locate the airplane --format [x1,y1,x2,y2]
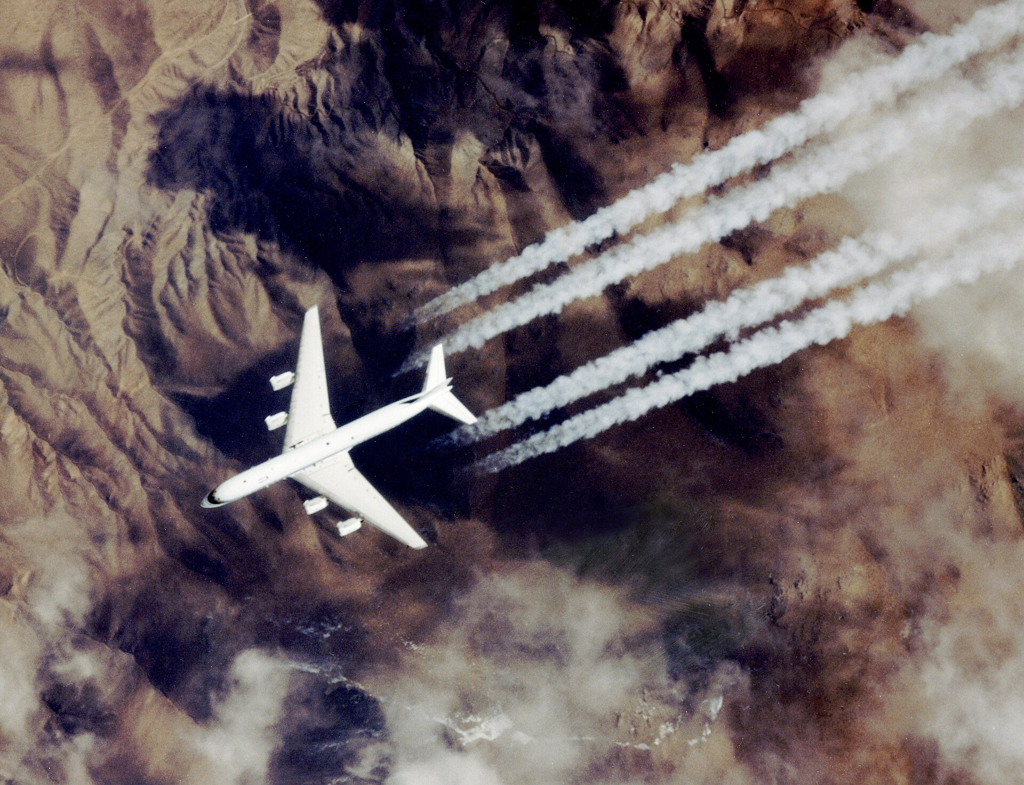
[203,309,475,547]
